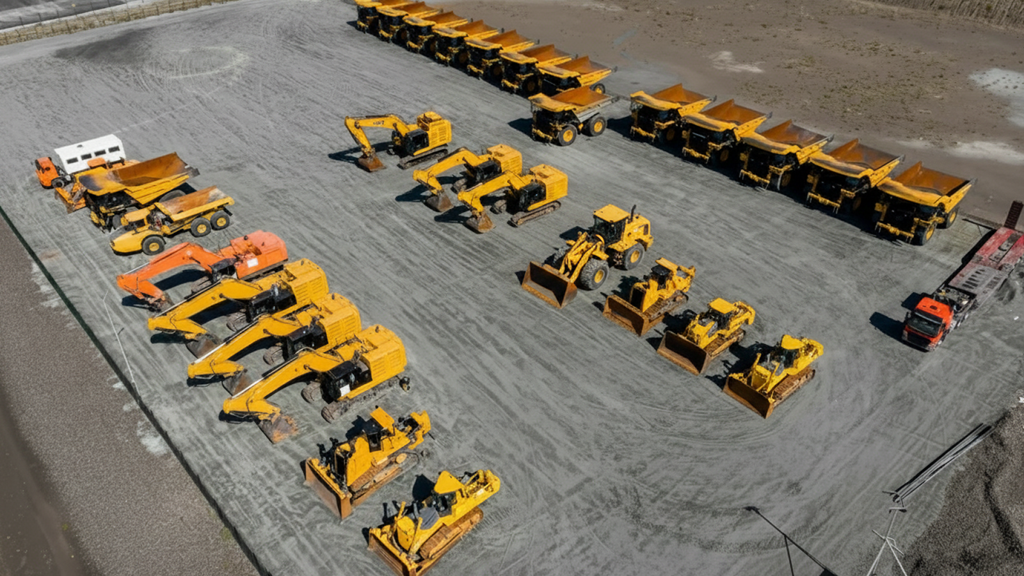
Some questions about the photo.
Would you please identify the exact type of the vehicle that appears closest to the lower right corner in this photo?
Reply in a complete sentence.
From above, the vehicle that appears closest to the lower right corner can be identified as a truck.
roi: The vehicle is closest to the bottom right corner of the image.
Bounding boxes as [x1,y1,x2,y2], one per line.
[900,291,971,352]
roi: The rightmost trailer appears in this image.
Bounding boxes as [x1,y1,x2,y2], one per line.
[947,194,1024,302]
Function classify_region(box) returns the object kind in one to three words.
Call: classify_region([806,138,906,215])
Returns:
truck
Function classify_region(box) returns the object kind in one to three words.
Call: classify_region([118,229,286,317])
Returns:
work vehicle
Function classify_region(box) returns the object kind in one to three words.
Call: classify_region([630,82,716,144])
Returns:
truck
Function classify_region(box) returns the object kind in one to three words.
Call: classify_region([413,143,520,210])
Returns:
work vehicle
